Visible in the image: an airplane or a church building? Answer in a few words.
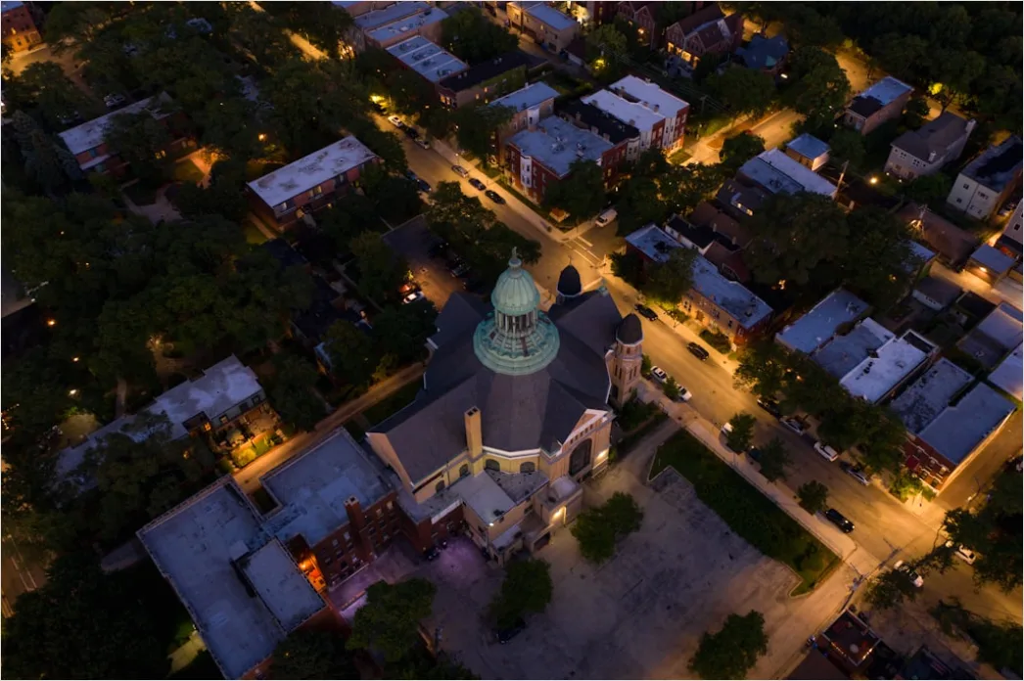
church building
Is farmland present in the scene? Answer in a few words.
No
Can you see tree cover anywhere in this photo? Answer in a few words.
Yes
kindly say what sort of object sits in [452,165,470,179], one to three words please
car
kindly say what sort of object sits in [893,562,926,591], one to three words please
car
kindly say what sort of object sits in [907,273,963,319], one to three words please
building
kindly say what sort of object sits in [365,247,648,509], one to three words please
church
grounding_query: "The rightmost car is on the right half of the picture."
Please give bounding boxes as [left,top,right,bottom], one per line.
[996,207,1014,222]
